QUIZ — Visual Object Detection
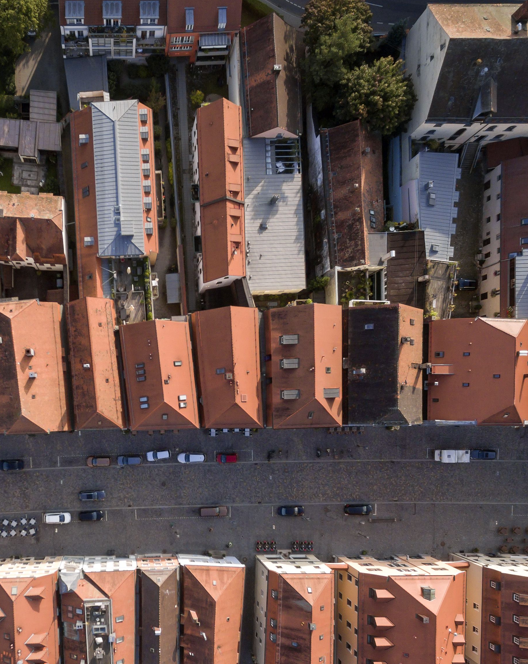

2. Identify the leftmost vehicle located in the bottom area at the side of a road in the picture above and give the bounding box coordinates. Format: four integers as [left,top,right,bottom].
[0,458,26,472]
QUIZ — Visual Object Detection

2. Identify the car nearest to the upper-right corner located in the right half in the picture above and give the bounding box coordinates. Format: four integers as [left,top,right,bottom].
[453,277,477,290]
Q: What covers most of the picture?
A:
buildings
